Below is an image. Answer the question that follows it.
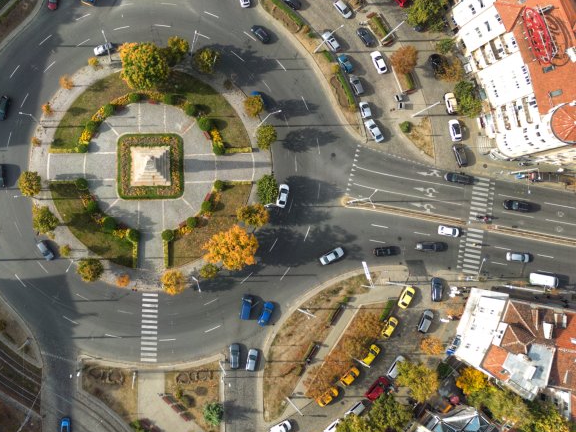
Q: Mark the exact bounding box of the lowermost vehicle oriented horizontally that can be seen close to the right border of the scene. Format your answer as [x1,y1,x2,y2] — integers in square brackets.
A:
[527,272,560,288]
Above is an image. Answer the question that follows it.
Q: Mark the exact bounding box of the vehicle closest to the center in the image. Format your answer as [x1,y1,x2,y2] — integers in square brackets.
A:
[276,183,290,209]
